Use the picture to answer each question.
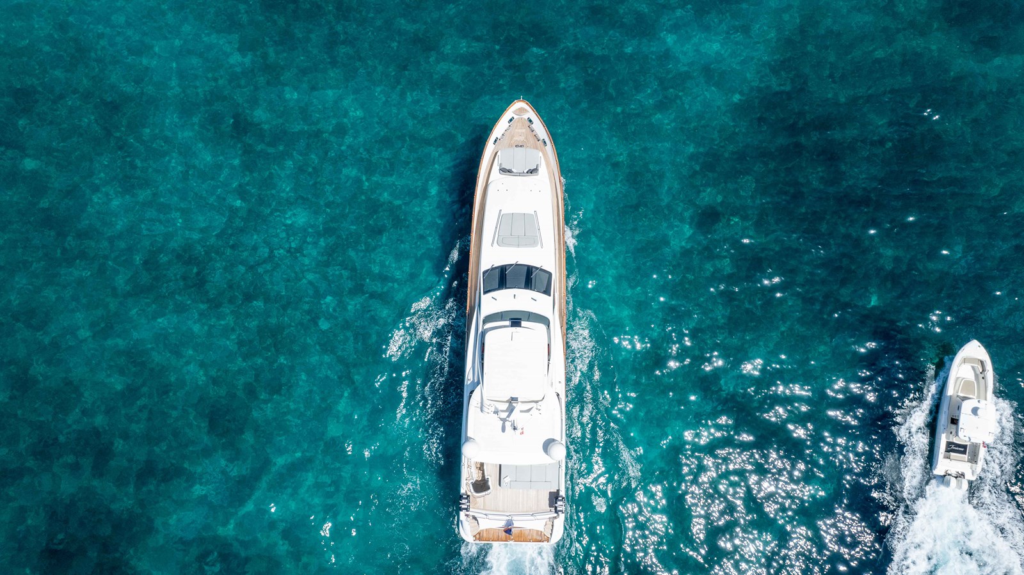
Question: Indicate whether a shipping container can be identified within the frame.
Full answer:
No, the frame has no shipping container in it.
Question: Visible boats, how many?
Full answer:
There are 2 boats in the image.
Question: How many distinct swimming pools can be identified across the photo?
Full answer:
There are no swimming pools in the image.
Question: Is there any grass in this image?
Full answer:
No, there's no grass in this view.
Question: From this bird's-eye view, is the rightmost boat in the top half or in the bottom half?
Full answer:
The rightmost boat is in the bottom half of the image.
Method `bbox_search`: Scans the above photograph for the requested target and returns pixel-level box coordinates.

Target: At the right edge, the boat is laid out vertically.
[926,339,996,492]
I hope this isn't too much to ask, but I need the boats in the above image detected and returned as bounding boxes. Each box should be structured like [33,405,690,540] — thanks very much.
[460,95,566,544]
[926,339,996,492]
